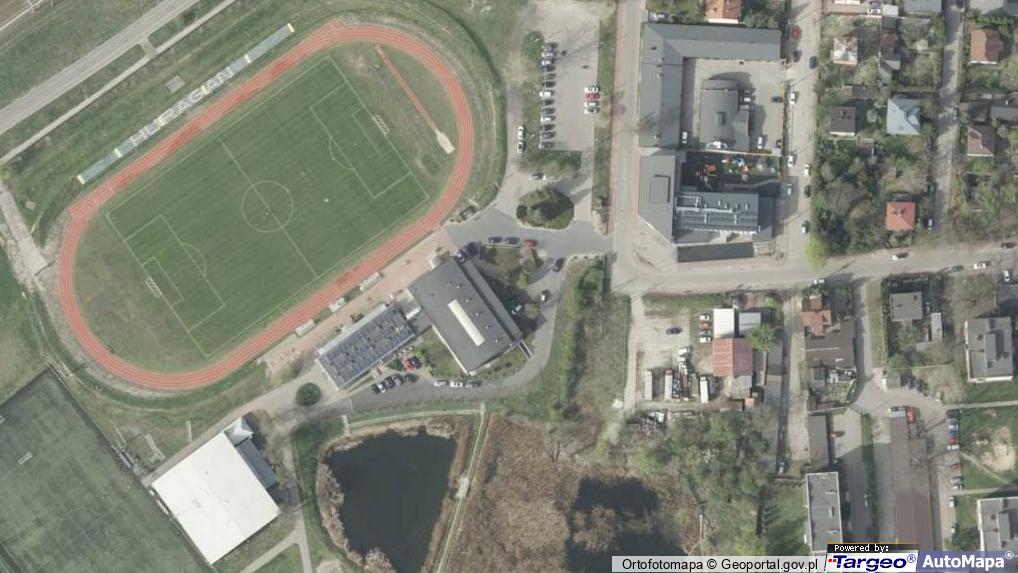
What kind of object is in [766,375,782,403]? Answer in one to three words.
shed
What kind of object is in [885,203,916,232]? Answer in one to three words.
house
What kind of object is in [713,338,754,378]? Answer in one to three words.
building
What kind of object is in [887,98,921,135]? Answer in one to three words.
house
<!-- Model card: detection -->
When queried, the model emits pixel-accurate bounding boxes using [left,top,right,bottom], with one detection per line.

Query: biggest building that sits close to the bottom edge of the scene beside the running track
[152,433,280,565]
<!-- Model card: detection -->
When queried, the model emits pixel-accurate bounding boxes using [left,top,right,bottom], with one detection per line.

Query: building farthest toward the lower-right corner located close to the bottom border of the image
[975,498,1018,568]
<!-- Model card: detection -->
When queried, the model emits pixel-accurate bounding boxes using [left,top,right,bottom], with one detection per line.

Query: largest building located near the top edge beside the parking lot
[638,22,780,150]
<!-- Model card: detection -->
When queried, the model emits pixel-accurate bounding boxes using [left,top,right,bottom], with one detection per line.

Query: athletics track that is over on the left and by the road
[58,18,478,390]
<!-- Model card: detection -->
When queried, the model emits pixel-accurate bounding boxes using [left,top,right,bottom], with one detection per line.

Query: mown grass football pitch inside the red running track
[101,53,434,362]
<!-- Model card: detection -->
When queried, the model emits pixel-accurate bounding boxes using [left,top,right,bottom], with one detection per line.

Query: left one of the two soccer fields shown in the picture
[0,366,207,573]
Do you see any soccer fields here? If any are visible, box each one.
[0,366,207,573]
[101,53,434,362]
